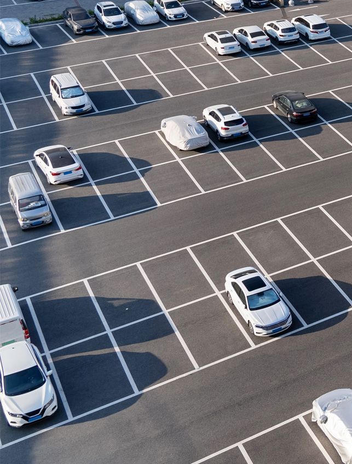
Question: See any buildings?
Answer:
No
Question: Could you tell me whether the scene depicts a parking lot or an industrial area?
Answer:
parking lot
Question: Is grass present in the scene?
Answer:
No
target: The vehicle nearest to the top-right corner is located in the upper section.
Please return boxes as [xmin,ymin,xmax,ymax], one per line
[291,14,329,42]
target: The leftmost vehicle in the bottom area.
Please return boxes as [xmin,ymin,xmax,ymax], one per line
[0,287,26,351]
